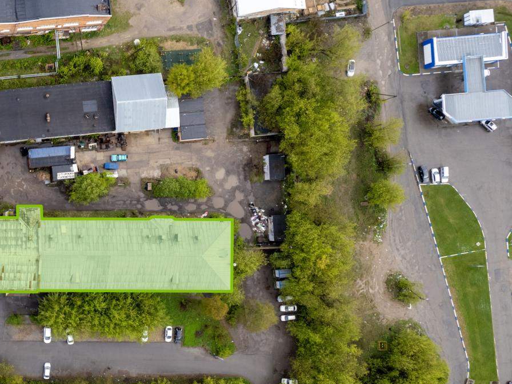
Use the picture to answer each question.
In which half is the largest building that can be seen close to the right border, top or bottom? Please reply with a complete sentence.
The largest building that can be seen close to the right border sits in the top half of the picture.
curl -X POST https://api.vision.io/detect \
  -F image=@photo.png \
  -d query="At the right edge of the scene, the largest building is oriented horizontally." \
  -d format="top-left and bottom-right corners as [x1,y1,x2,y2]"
[418,30,510,67]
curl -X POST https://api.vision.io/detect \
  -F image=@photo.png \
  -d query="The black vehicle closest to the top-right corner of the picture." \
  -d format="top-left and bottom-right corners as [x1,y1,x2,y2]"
[431,104,448,121]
